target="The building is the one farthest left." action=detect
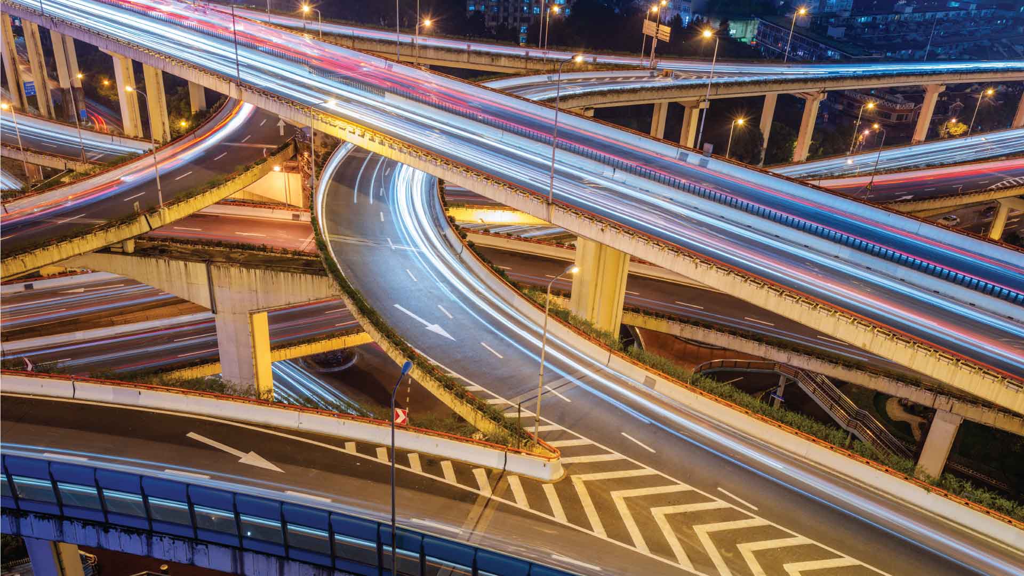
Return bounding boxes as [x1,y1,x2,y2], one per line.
[486,0,557,37]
